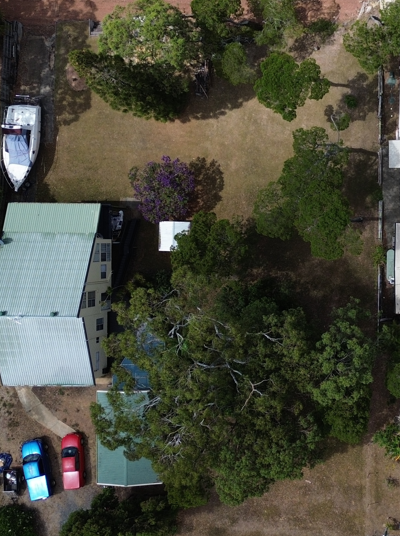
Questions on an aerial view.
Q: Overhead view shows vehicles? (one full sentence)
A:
Yes, a vehicle can be made out from above.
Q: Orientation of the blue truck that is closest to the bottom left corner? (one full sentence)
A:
In this picture, the blue truck that is closest to the bottom left corner is oriented from top to bottom.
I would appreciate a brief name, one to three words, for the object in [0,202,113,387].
house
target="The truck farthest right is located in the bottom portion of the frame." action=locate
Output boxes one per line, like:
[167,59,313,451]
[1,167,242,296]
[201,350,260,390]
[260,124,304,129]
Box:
[58,431,87,489]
